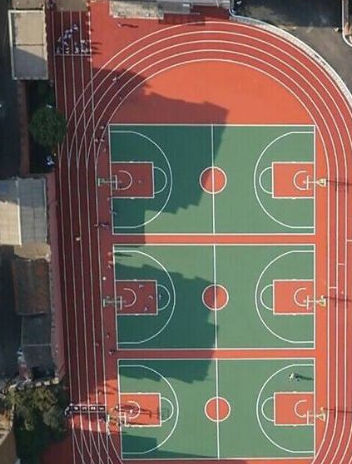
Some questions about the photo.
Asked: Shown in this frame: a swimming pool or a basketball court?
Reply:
basketball court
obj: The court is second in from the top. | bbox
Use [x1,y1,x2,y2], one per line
[113,243,315,350]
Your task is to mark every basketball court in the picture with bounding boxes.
[113,243,315,350]
[108,123,316,236]
[118,359,315,459]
